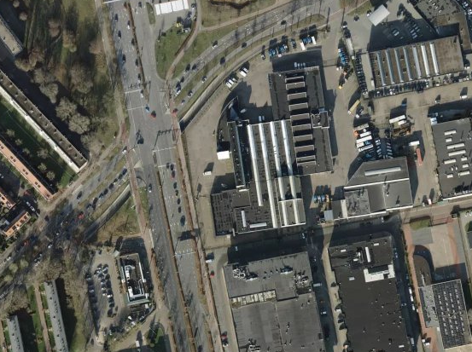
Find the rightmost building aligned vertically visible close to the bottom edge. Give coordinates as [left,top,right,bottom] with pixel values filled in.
[431,279,472,351]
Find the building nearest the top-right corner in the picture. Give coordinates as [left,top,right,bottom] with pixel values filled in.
[415,0,472,54]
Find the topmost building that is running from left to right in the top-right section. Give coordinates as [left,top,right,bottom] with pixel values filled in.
[368,35,463,89]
